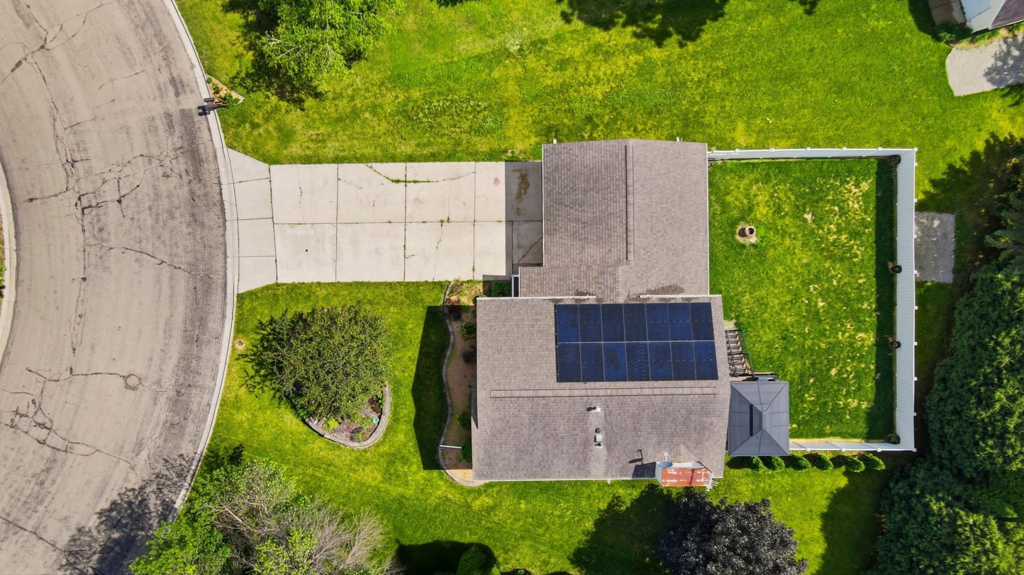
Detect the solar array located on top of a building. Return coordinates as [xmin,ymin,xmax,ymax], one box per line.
[552,302,720,382]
